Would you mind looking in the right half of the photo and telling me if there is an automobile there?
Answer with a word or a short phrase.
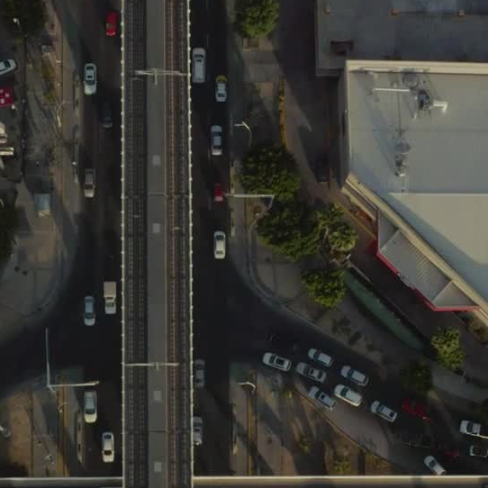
Yes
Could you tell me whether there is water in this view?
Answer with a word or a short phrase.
No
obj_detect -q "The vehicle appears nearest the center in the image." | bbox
[214,231,227,260]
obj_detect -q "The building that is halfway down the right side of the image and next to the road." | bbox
[336,62,488,332]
